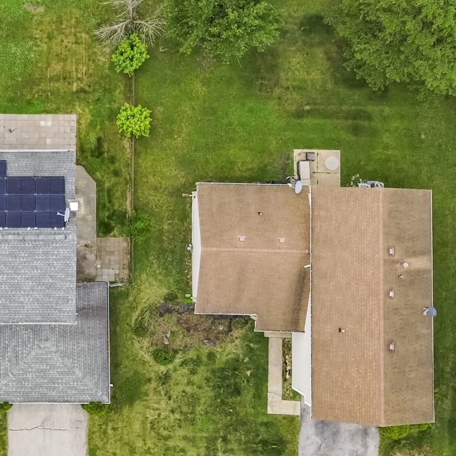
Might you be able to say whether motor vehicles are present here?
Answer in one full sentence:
No, this view has no motor vehicle in it.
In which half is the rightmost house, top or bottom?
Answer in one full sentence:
The rightmost house is in the bottom half of the image.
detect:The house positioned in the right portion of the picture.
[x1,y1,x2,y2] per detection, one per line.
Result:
[183,181,439,427]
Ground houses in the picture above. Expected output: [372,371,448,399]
[0,148,122,405]
[183,181,439,427]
